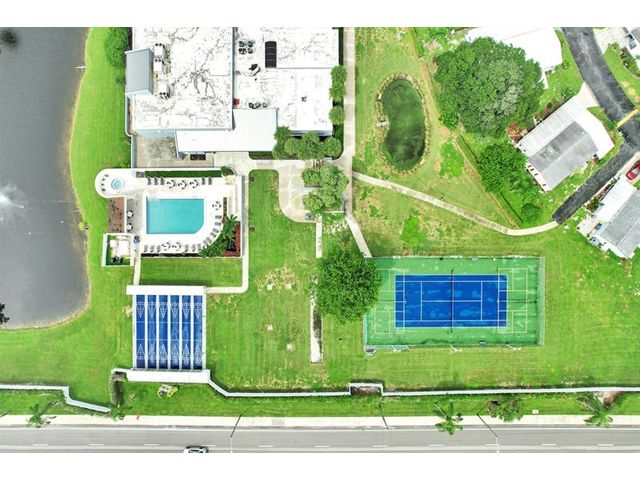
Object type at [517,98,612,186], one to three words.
house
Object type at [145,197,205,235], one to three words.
swimming pool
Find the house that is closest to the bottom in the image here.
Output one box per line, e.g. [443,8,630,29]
[589,177,640,261]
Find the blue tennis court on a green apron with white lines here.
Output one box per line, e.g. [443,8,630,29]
[366,258,538,346]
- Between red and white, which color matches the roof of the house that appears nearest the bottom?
white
